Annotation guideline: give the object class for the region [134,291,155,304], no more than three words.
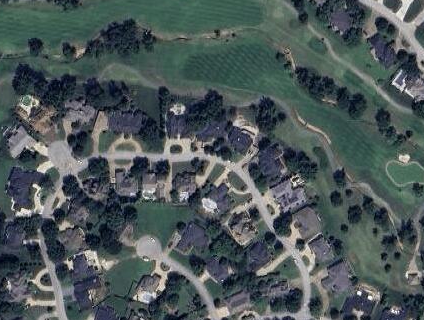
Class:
swimming pool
